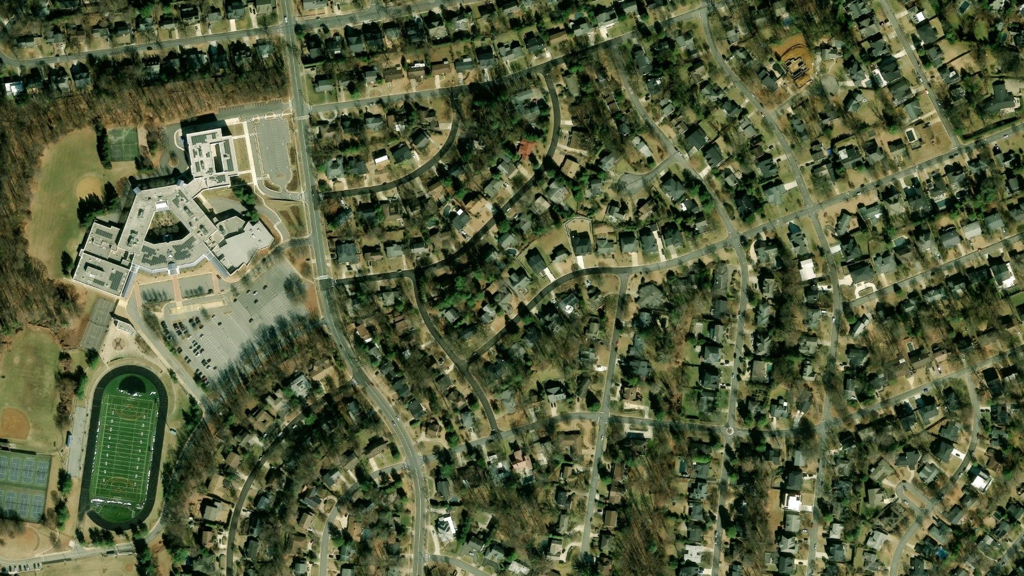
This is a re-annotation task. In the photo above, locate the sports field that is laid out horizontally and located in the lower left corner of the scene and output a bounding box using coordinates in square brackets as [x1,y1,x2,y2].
[42,553,139,576]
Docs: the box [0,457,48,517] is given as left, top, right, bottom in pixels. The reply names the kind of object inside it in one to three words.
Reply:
tennis court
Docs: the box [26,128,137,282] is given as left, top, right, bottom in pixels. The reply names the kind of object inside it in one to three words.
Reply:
sports field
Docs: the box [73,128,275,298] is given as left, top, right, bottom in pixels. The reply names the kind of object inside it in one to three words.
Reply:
building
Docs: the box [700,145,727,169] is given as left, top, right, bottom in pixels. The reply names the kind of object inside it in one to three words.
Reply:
house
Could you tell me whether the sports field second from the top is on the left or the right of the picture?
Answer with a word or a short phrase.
left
